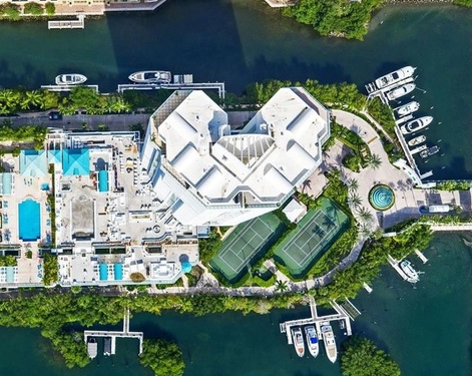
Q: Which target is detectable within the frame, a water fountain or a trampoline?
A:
water fountain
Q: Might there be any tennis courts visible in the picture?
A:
Yes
